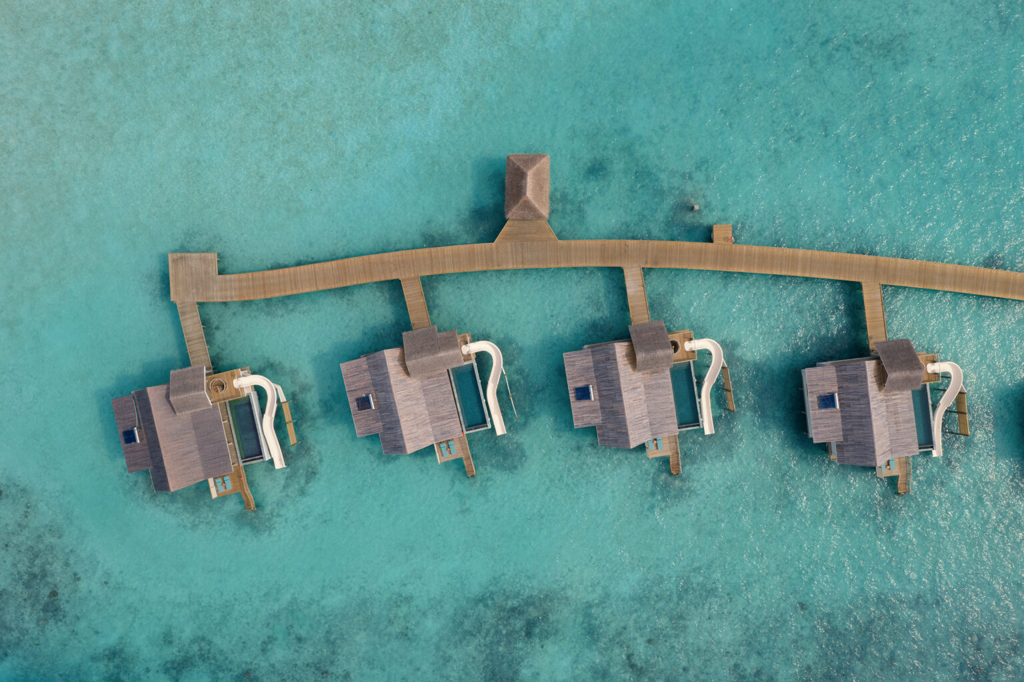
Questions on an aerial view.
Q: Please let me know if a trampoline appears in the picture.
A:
No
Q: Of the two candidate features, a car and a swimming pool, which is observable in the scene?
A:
swimming pool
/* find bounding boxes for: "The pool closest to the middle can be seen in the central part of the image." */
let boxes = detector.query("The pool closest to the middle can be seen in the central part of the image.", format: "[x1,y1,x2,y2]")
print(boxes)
[450,361,490,433]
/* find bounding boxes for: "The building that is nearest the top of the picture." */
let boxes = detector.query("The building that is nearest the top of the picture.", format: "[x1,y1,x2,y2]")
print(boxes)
[505,153,551,221]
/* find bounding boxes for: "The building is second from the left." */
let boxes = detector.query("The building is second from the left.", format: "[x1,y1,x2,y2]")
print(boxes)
[340,324,478,476]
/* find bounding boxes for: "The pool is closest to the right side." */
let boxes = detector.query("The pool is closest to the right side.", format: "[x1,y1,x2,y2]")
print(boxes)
[913,384,935,450]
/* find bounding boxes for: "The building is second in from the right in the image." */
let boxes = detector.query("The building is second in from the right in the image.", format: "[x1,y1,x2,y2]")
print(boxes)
[563,319,697,474]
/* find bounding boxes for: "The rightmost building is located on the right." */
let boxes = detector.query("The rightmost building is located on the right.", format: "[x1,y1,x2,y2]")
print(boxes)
[795,339,941,495]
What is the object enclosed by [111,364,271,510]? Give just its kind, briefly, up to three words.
house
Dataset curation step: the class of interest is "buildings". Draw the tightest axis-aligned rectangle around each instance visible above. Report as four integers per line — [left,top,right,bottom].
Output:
[505,153,551,221]
[340,324,478,476]
[795,339,941,495]
[563,319,697,474]
[111,364,271,510]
